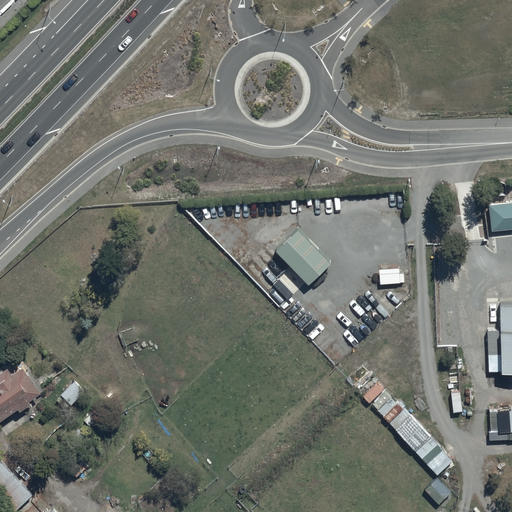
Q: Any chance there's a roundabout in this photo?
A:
Yes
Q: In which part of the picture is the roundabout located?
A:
top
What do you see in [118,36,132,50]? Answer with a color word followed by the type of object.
white car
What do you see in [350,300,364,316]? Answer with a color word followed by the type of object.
white vehicle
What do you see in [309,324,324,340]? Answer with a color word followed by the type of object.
white vehicle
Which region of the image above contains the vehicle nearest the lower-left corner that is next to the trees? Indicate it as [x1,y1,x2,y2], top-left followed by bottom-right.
[14,465,31,480]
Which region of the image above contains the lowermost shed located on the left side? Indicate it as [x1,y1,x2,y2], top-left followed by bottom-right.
[0,459,32,510]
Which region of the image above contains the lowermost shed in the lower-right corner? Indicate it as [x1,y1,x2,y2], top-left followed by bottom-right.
[424,476,452,504]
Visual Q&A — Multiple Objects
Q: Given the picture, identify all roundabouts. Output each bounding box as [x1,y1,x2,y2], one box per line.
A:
[214,32,331,147]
